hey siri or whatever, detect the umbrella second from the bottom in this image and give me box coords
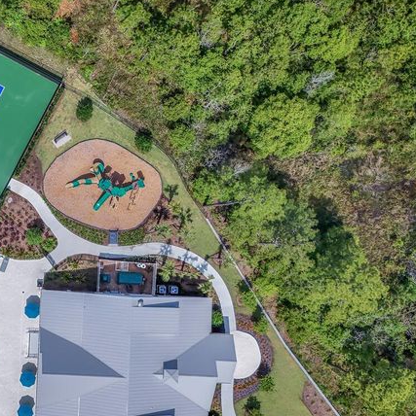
[19,368,37,385]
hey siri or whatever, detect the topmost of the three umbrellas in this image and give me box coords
[24,297,40,316]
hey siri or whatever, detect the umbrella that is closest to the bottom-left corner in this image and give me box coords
[17,403,35,416]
